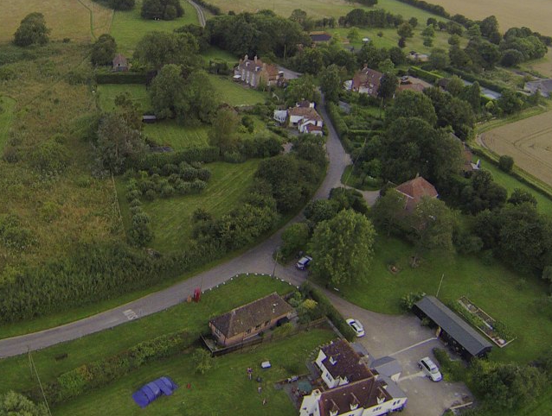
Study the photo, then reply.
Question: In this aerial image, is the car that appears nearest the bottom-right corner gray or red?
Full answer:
The car that appears nearest the bottom-right corner is gray.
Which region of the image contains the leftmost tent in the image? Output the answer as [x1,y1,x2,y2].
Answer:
[127,378,179,410]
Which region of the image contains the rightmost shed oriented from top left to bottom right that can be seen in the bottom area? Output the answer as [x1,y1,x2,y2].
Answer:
[412,294,495,366]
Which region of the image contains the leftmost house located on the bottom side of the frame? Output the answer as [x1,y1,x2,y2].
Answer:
[202,290,294,350]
